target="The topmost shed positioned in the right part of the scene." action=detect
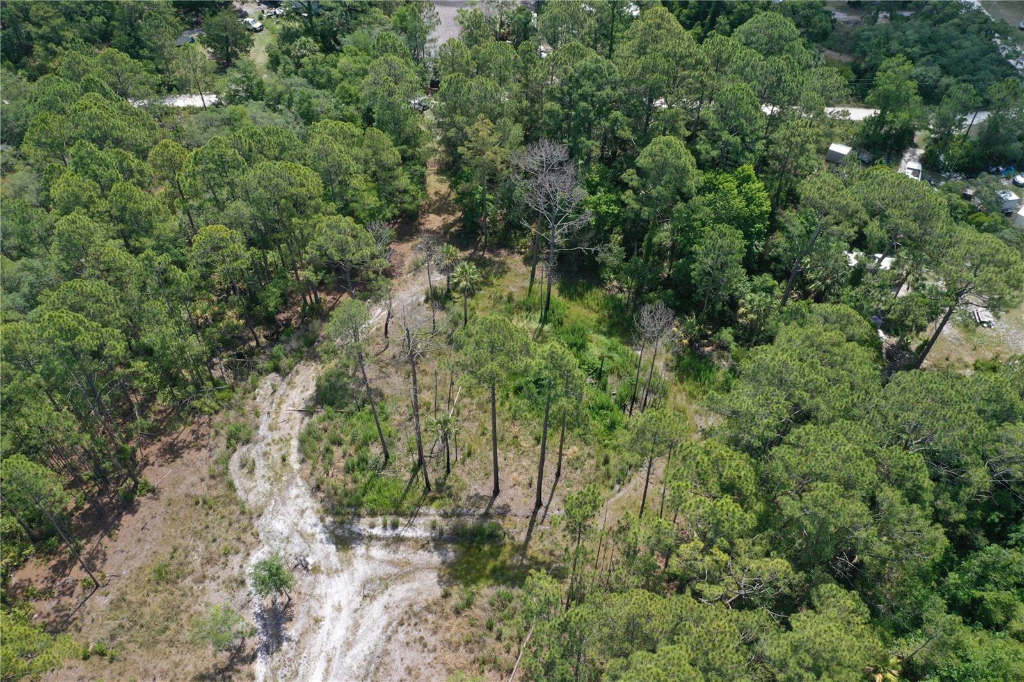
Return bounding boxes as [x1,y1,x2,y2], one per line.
[829,142,856,165]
